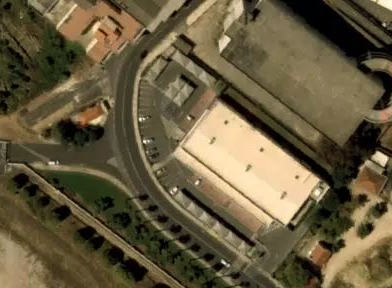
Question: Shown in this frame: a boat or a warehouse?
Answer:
warehouse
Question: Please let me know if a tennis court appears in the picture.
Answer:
No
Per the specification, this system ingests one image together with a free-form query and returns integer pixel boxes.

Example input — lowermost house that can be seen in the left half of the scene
[75,101,104,124]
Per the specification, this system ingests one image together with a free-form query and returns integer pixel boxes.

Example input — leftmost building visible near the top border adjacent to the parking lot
[56,0,145,62]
